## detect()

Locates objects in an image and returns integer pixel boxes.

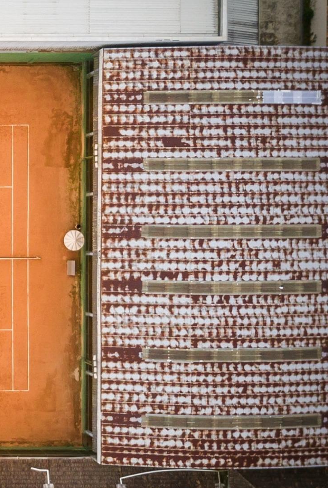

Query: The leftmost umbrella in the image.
[64,229,84,250]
